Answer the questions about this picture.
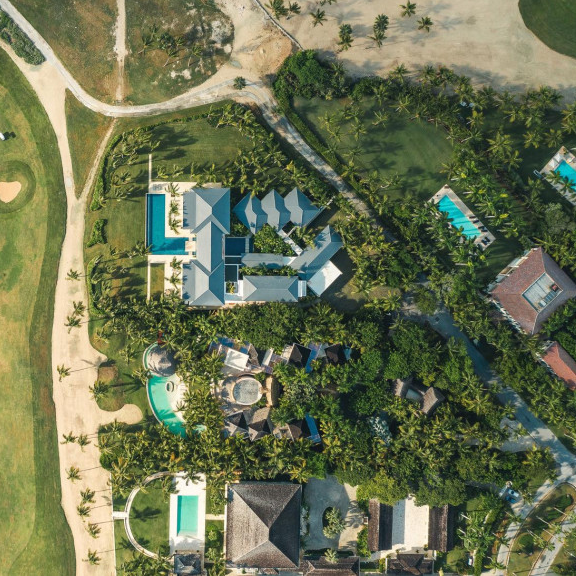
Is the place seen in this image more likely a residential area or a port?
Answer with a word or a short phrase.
residential area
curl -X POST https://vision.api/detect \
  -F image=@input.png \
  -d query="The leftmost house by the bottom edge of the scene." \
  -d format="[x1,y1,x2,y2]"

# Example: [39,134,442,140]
[223,477,360,576]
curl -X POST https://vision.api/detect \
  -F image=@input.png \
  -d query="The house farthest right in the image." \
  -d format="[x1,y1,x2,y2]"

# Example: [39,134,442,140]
[537,342,576,391]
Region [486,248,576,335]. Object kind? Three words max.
house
